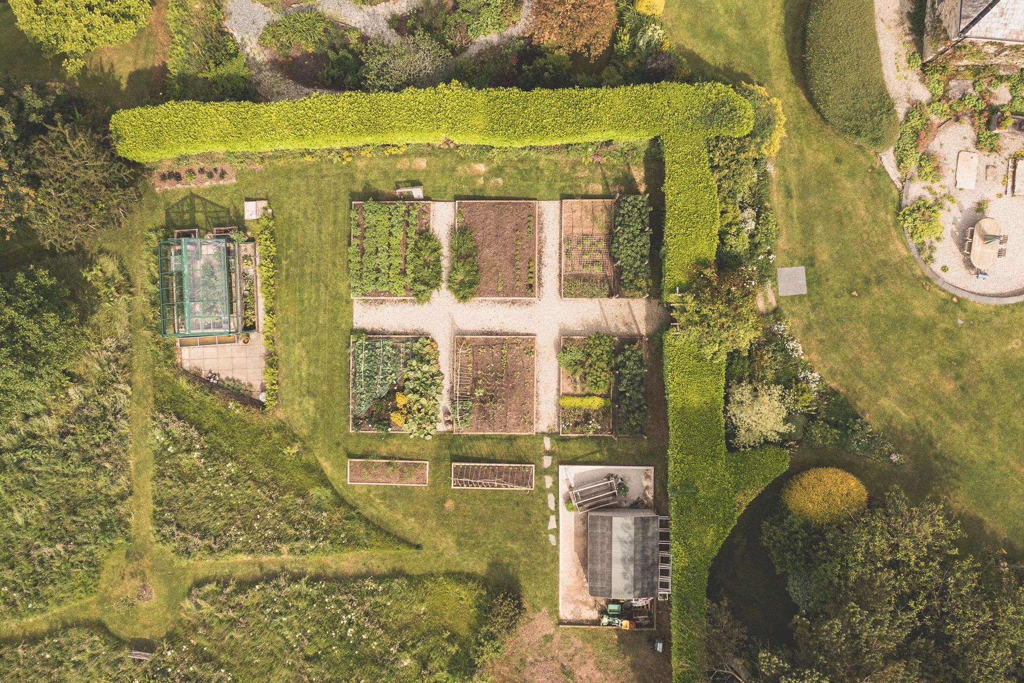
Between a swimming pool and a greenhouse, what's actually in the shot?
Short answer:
greenhouse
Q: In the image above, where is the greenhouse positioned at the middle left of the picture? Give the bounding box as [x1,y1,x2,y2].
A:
[158,235,239,339]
